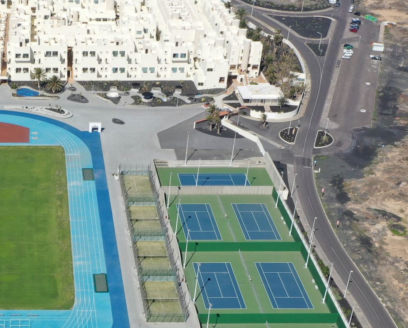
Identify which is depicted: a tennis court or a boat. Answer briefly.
tennis court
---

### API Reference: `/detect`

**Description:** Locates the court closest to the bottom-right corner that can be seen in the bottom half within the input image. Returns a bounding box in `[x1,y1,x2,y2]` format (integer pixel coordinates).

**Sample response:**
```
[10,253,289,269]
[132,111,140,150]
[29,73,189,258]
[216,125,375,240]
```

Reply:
[255,261,315,309]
